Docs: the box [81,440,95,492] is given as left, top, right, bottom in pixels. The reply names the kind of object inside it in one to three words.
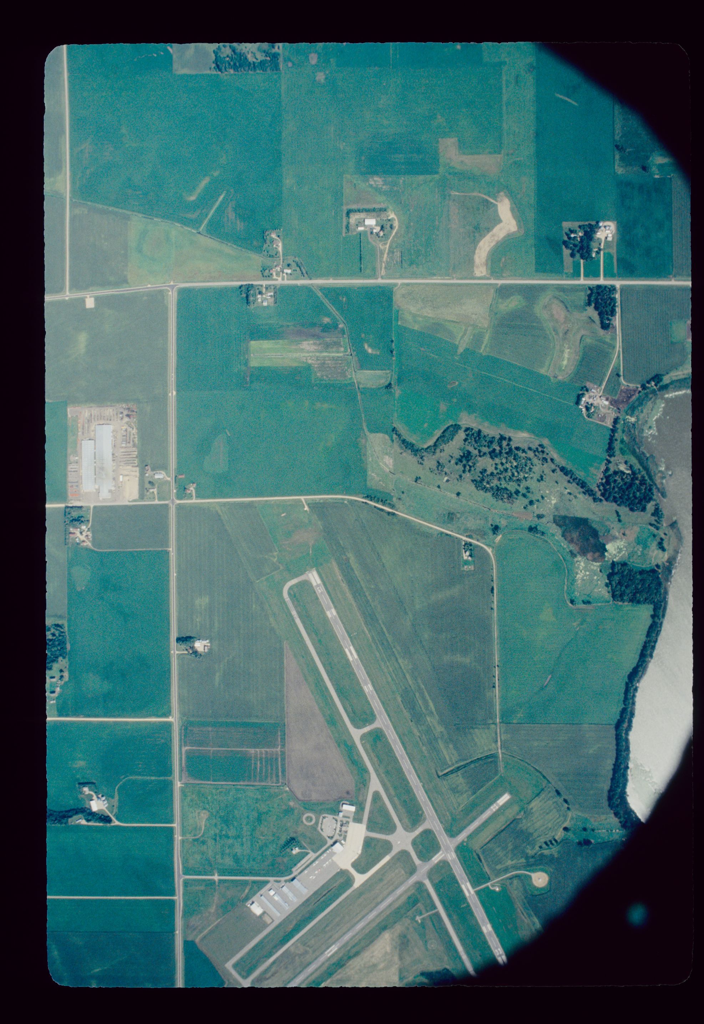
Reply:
shed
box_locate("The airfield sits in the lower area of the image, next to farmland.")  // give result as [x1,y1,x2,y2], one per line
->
[224,559,553,1024]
